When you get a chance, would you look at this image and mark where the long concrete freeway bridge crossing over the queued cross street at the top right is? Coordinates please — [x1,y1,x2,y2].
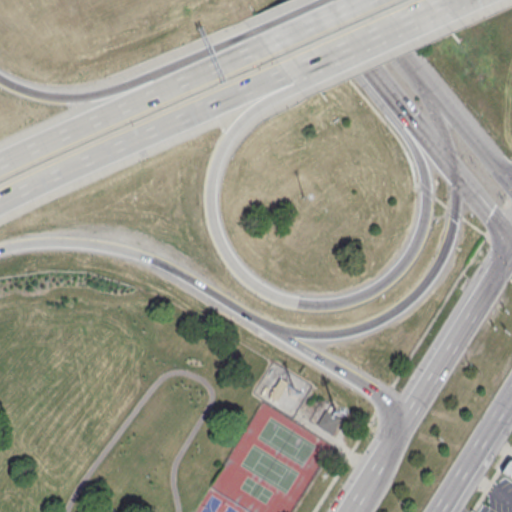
[248,0,450,100]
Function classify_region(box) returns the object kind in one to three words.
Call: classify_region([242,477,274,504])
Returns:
sports court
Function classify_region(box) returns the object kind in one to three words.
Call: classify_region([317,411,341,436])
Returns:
building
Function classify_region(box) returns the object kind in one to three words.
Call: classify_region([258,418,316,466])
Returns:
tennis court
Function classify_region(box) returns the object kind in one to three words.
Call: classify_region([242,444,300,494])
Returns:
tennis court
